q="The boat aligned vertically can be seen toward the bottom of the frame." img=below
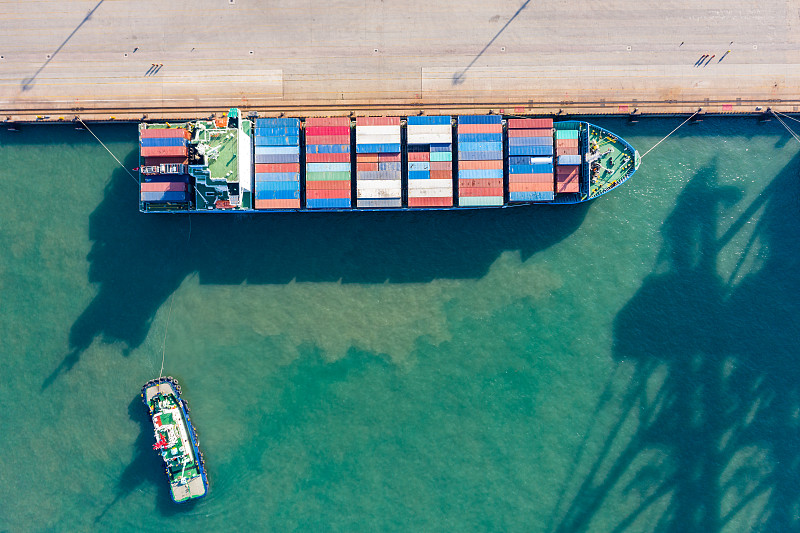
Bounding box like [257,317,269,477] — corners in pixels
[144,375,209,500]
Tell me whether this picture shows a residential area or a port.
port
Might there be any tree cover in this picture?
No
